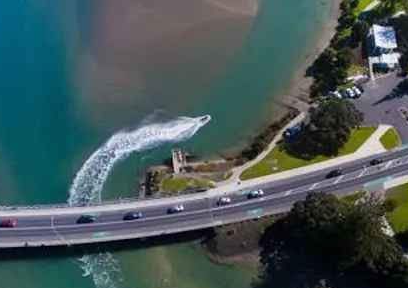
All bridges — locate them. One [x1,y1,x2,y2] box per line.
[0,185,239,248]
